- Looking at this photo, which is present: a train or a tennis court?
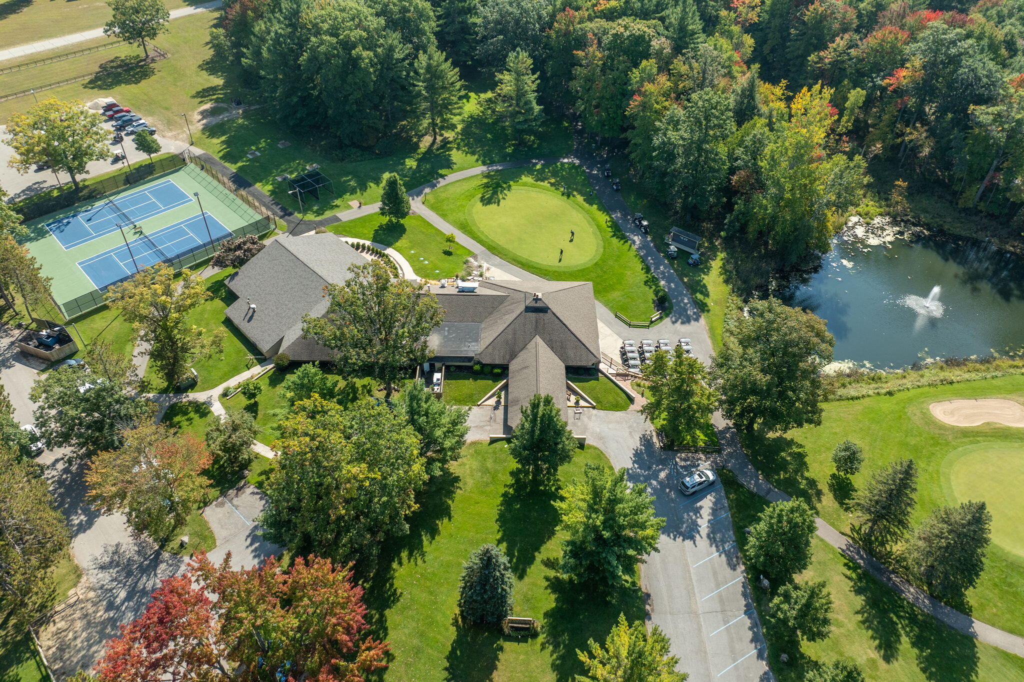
tennis court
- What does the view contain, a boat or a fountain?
fountain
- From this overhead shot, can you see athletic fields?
Yes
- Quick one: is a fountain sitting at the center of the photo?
No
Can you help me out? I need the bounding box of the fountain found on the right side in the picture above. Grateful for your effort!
[878,282,946,321]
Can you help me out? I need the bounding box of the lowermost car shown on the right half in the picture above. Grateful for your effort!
[679,469,719,495]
